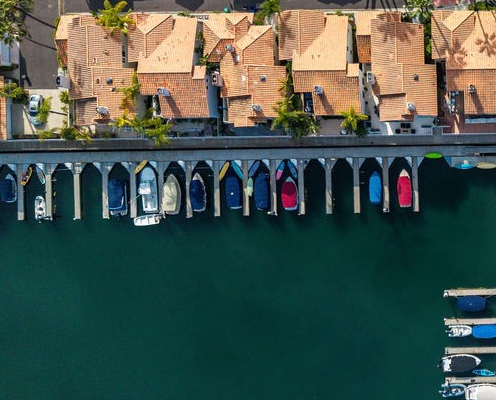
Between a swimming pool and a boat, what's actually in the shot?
boat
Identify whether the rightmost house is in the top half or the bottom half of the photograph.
top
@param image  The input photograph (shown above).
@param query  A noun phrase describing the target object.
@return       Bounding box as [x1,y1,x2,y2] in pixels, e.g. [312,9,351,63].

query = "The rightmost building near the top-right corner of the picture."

[431,10,496,126]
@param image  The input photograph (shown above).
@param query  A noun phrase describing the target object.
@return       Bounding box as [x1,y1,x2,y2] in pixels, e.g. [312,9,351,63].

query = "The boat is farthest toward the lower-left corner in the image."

[34,198,46,223]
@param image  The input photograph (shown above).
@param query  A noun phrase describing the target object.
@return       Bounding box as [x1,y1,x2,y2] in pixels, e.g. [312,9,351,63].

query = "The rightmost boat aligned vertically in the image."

[396,169,411,208]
